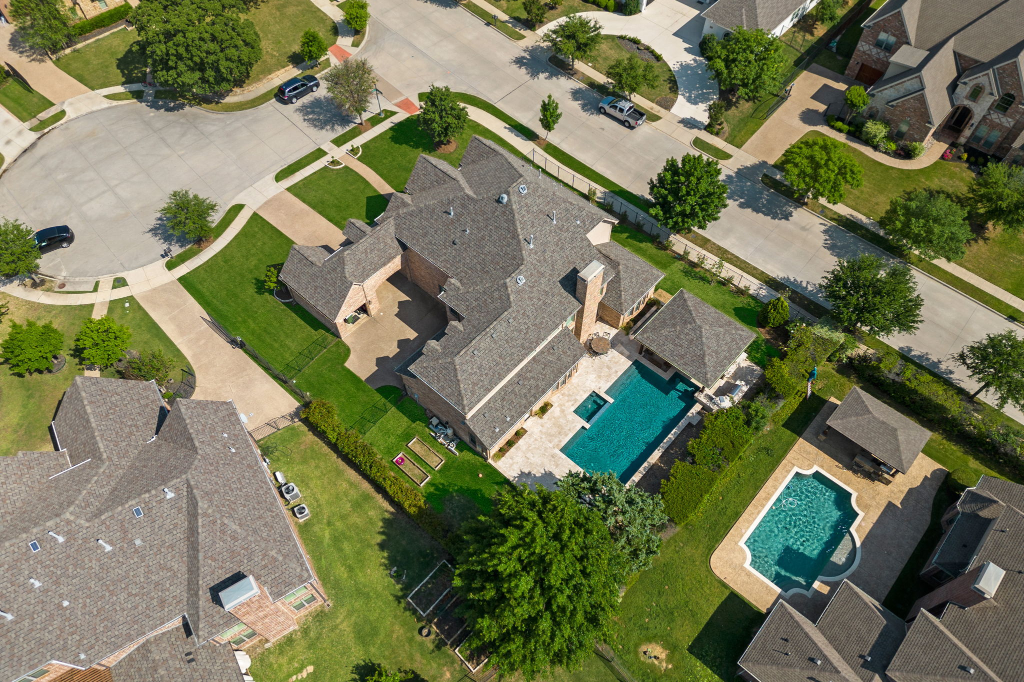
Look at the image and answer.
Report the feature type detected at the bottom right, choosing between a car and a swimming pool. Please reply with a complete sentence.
It is a swimming pool that can be seen at the bottom right.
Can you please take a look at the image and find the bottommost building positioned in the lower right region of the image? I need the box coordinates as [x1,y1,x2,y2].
[735,474,1024,682]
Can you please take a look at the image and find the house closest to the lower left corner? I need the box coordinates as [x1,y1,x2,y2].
[0,375,329,682]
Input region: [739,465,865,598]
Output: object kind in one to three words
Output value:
swimming pool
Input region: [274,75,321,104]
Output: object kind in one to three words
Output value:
car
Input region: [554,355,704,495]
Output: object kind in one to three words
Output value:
swimming pool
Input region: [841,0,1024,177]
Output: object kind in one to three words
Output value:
house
